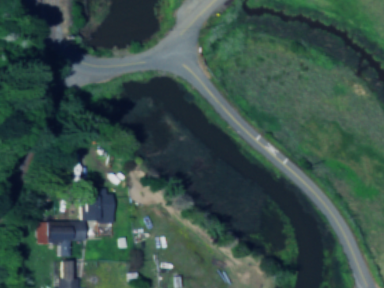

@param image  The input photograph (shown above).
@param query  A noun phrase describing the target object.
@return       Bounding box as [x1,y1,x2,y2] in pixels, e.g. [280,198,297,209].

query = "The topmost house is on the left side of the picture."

[78,188,116,222]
